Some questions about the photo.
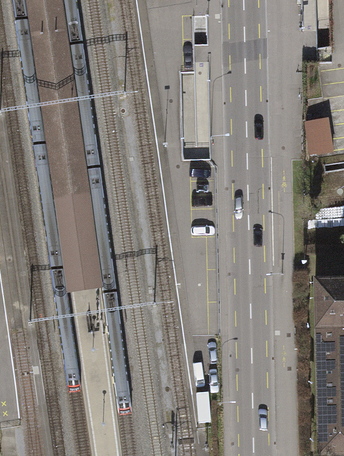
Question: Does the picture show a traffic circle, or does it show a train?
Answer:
train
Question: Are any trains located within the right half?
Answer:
No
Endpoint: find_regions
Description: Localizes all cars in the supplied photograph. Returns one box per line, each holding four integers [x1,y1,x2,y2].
[234,192,245,218]
[190,170,212,180]
[206,342,218,364]
[258,408,269,432]
[190,225,214,236]
[196,182,210,192]
[192,196,212,207]
[208,371,219,395]
[182,42,194,68]
[252,225,264,248]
